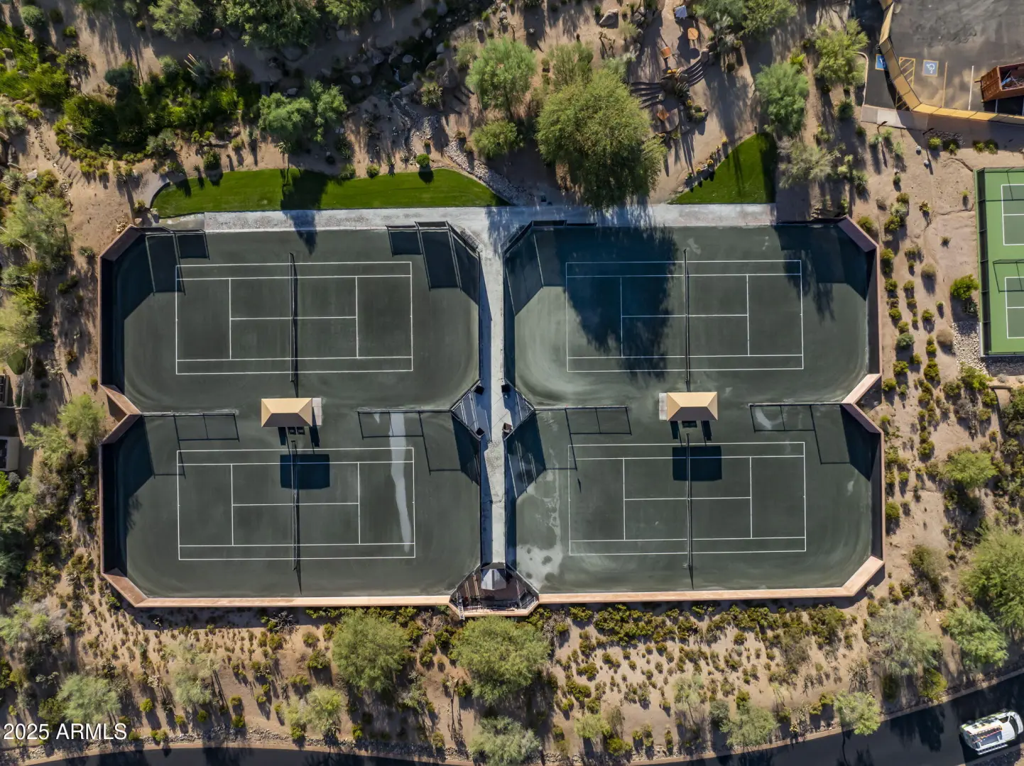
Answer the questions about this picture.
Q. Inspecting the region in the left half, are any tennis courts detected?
Yes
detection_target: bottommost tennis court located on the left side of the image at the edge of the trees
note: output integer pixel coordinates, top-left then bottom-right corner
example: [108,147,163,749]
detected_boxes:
[115,411,481,598]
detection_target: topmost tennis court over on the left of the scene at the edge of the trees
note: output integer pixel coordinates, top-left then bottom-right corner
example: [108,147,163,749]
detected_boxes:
[114,228,480,412]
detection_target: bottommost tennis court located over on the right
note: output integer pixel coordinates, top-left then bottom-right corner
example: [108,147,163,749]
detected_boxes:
[505,403,871,594]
